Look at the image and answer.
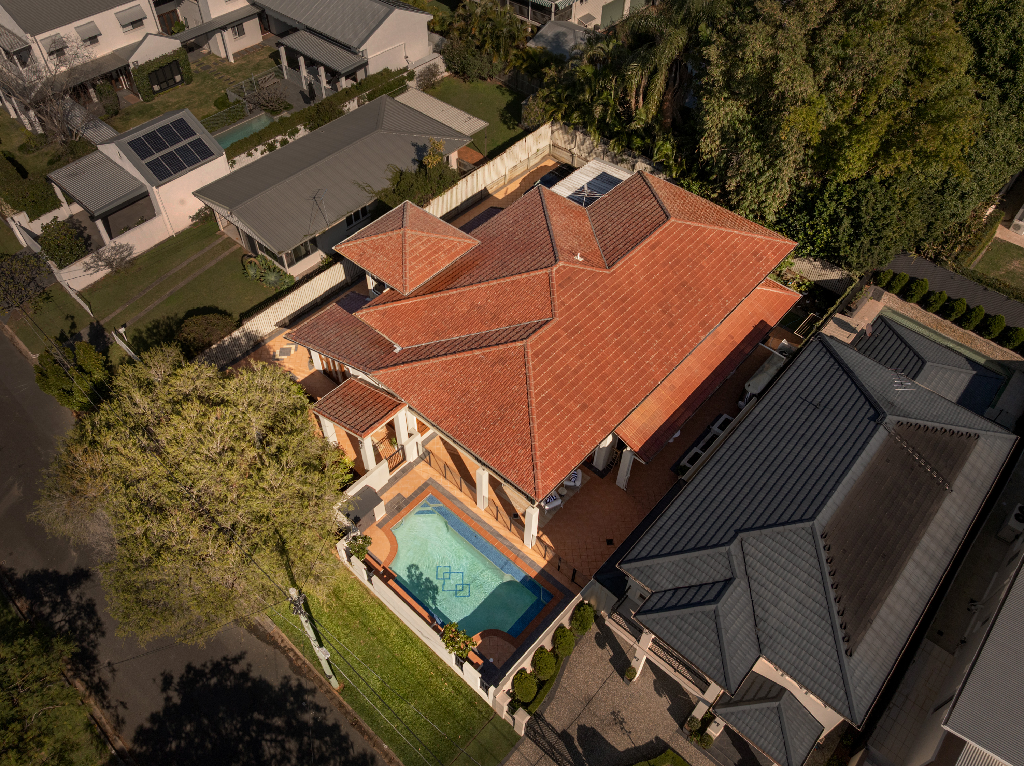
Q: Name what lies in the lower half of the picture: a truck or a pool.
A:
pool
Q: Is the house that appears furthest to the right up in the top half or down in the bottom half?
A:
bottom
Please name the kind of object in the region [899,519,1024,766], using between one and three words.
house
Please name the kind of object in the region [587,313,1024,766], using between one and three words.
house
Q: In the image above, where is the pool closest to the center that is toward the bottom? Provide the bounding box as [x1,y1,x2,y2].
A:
[380,485,565,663]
